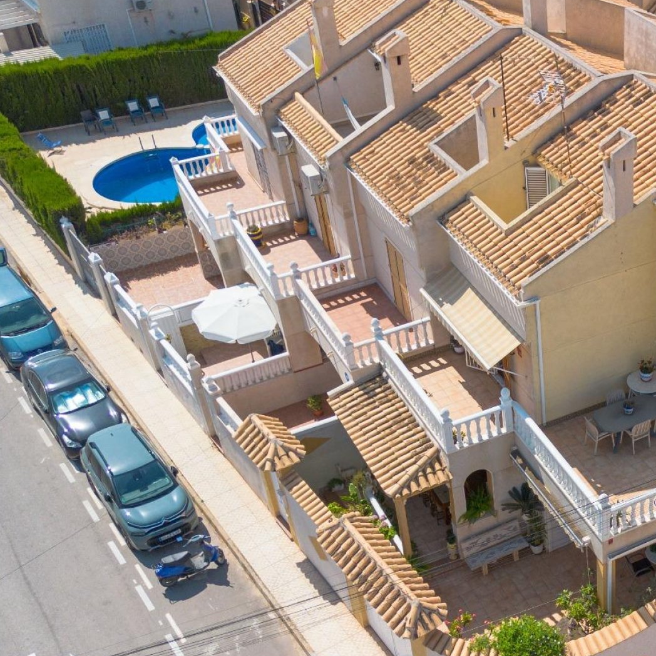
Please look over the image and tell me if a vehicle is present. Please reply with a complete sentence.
Yes, a vehicle is visible in the scene.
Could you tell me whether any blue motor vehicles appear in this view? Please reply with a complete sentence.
Yes, the picture does show a blue motor vehicle.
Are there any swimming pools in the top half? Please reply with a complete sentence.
Yes, a swimming pool shows up in the top half.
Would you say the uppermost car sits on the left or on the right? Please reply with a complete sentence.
The uppermost car appears in the left half of the scene.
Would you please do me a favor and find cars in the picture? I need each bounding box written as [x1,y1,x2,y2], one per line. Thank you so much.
[25,351,133,464]
[0,273,76,386]
[83,426,208,561]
